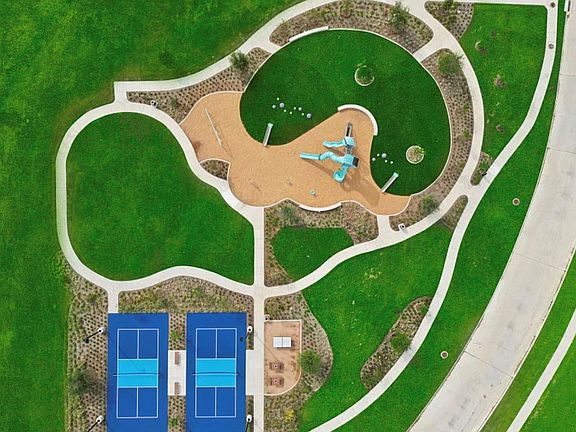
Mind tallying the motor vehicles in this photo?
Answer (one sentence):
There are no motor vehicles in the image.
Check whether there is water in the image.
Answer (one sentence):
No, the scene doesn't show any water.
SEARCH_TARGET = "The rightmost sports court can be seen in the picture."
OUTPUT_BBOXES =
[186,312,247,432]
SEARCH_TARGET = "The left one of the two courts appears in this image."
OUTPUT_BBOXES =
[107,313,168,432]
